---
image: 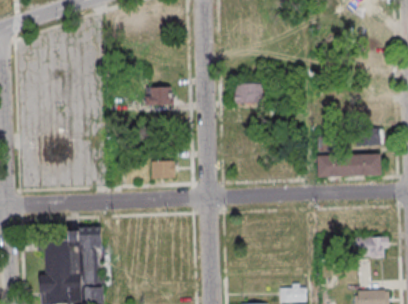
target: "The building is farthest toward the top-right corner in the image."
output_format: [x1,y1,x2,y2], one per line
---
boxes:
[354,130,386,150]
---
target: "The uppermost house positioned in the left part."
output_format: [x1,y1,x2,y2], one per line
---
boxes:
[145,88,173,106]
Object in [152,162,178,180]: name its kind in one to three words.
house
